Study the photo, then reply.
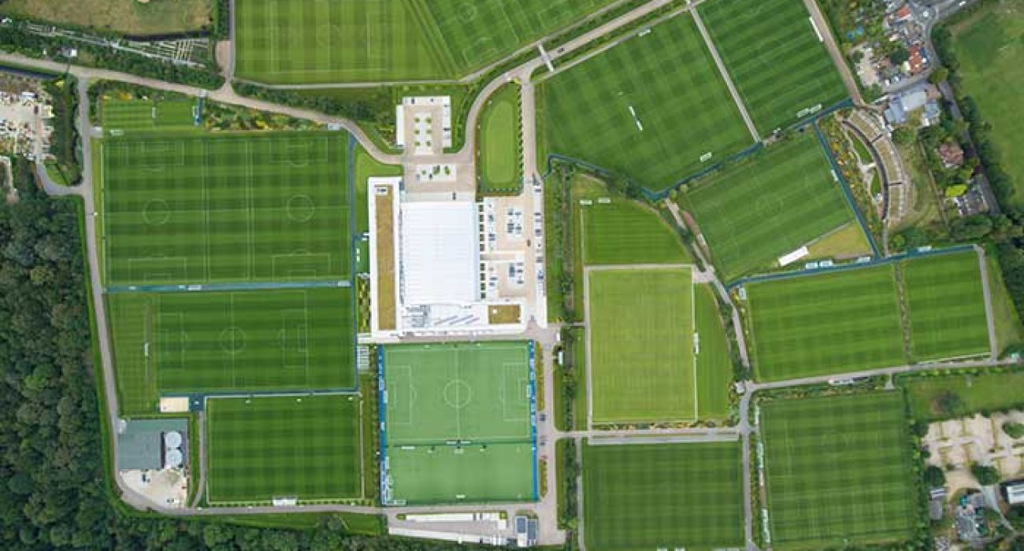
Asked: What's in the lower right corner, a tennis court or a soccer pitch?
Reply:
soccer pitch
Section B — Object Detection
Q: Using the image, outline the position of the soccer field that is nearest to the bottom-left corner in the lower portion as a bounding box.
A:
[110,292,160,415]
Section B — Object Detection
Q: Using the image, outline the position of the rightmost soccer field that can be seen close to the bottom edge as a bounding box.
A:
[760,392,916,543]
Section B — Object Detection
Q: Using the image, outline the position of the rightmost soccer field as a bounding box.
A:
[903,250,992,363]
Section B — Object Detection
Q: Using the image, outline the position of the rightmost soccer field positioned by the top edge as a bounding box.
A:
[694,0,849,136]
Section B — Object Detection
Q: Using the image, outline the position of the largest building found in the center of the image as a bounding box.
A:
[358,176,544,343]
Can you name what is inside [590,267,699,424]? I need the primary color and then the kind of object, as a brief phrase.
green soccer field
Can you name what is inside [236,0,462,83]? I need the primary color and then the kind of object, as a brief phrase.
green soccer field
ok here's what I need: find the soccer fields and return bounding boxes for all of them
[158,286,354,392]
[581,199,689,264]
[110,292,160,415]
[760,392,916,543]
[384,342,532,444]
[746,264,907,380]
[584,442,745,551]
[694,0,849,136]
[680,130,855,281]
[386,443,535,504]
[228,131,350,283]
[696,285,729,420]
[236,0,462,83]
[104,132,228,285]
[542,13,757,190]
[206,394,361,504]
[590,267,699,424]
[903,250,992,363]
[429,0,618,78]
